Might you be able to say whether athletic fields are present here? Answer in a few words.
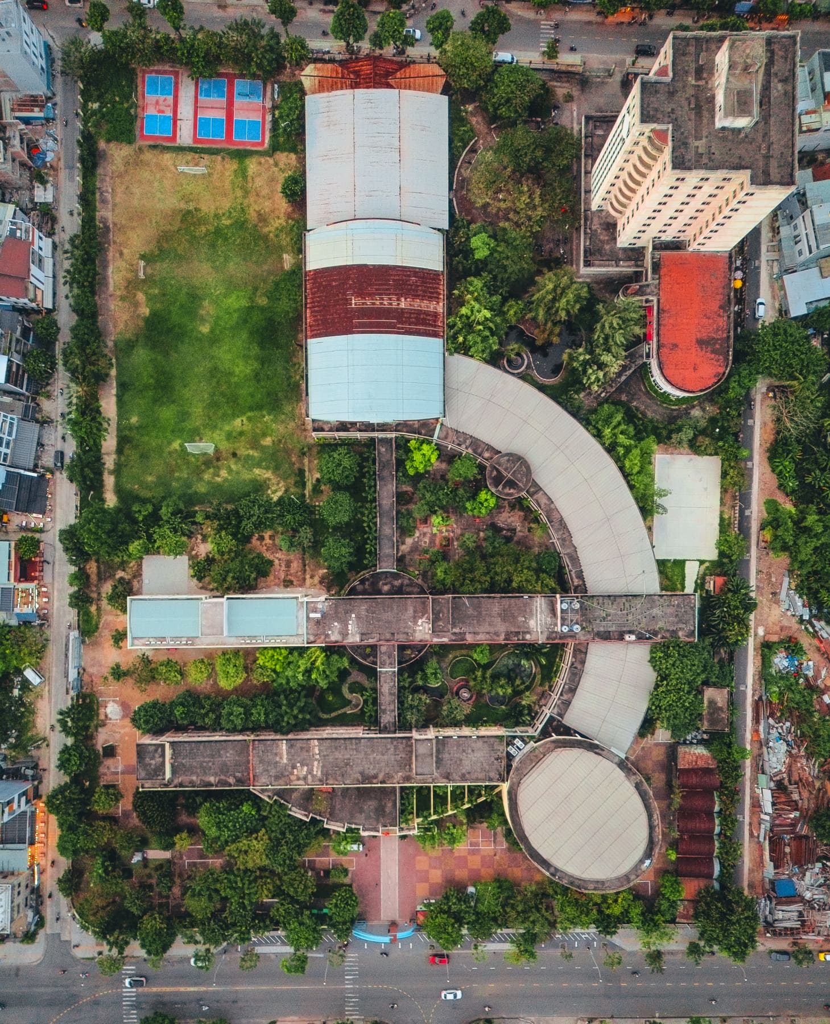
Yes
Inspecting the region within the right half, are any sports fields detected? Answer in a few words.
No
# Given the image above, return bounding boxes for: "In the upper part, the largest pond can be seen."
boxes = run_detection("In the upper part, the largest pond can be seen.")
[506,324,585,382]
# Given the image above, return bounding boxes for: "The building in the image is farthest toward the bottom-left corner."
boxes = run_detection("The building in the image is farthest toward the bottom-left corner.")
[0,867,34,934]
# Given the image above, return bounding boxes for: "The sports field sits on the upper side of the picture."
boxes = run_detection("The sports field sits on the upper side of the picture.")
[110,143,307,507]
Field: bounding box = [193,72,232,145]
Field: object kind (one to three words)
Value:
sports court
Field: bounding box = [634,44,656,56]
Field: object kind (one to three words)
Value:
vehicle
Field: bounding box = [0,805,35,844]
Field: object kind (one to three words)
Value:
building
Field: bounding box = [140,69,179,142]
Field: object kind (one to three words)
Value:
sports court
